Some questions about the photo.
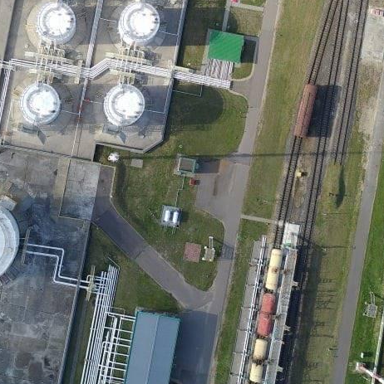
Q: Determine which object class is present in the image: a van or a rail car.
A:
rail car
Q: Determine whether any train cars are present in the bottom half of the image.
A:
Yes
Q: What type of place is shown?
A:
industrial area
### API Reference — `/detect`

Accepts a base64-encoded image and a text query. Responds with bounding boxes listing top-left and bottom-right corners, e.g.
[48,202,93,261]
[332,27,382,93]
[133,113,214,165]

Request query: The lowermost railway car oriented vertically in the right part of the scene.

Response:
[246,335,267,382]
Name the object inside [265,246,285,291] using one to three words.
rail car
